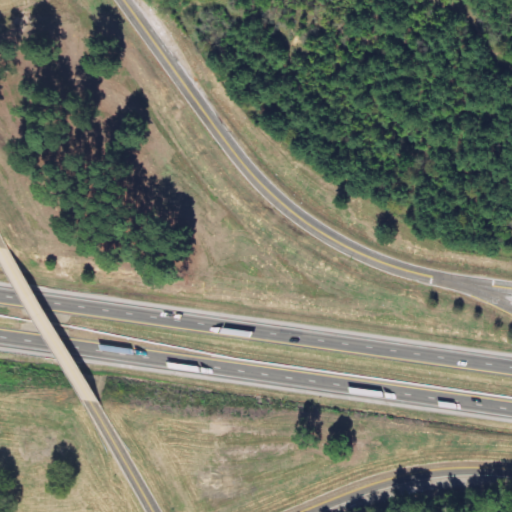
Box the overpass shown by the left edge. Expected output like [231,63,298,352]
[0,240,100,410]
